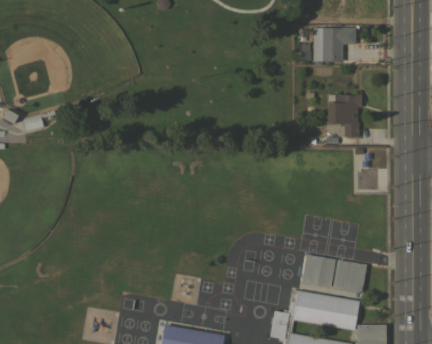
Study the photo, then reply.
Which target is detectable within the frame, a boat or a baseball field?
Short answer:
baseball field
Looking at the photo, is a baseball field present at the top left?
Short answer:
Yes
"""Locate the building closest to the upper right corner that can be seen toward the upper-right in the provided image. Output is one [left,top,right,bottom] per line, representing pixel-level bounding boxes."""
[314,28,356,62]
